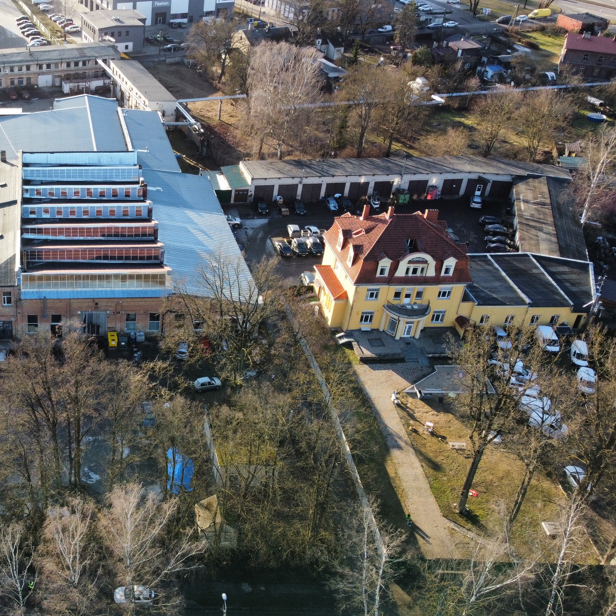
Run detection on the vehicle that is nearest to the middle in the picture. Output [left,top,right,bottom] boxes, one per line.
[299,270,313,288]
